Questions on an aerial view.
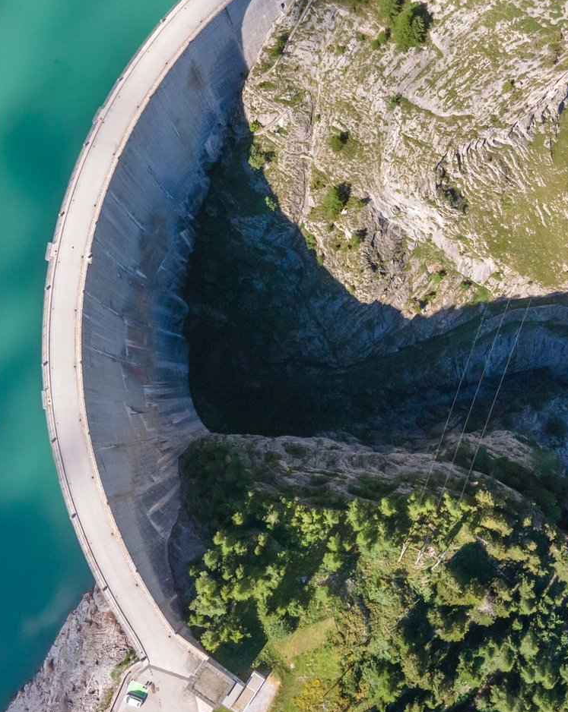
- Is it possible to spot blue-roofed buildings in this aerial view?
No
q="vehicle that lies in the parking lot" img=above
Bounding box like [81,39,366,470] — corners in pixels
[122,695,143,712]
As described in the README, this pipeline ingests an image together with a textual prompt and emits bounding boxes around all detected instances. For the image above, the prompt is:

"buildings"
[229,663,266,712]
[187,654,236,708]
